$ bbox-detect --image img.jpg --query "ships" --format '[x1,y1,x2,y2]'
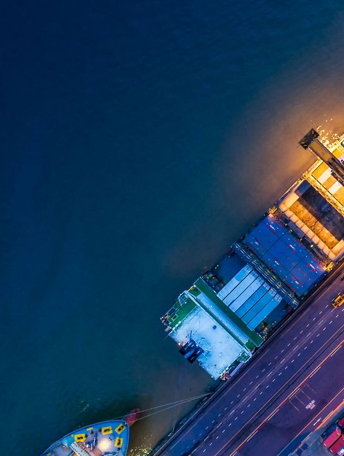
[42,409,142,456]
[162,134,344,383]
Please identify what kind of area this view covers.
port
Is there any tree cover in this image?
No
